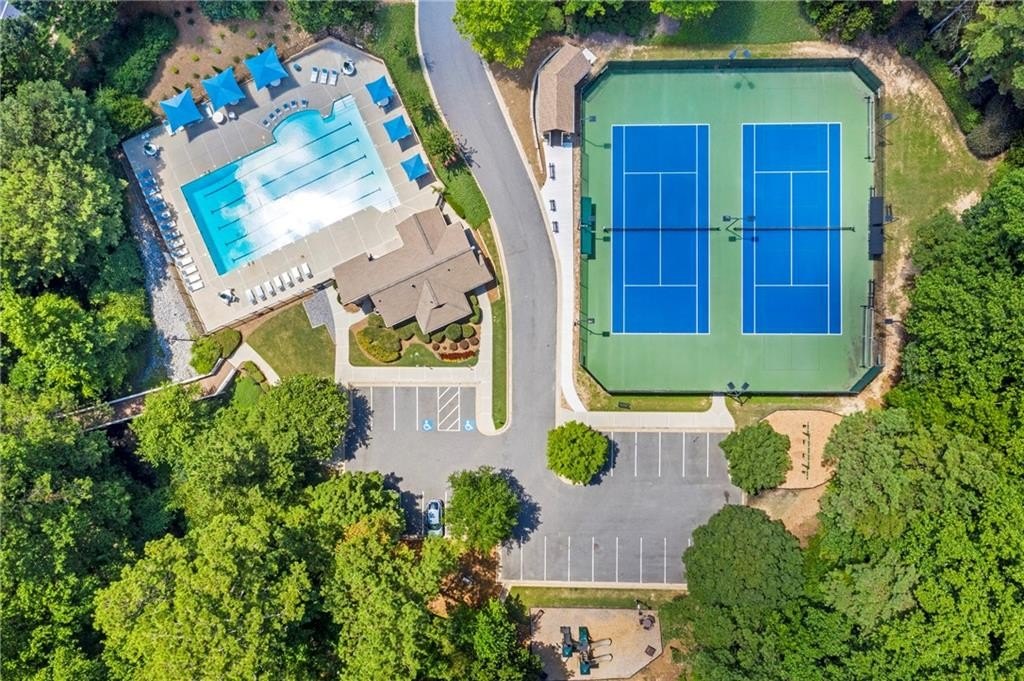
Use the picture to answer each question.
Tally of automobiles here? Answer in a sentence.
Altogether the scene contains 1 automobile.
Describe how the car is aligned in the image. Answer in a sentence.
From this overhead view, the car appears to run from top to bottom.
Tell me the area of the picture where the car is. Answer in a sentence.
The car is located in the bottom region of the scene.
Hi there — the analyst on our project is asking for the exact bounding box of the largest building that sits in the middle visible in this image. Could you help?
[333,207,493,334]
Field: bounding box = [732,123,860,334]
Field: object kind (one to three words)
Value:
tennis court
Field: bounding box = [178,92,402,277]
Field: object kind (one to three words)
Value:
swimming pool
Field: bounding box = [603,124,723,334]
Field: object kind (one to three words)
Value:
tennis court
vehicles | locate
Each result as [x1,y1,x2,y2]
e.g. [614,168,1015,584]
[425,498,445,538]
